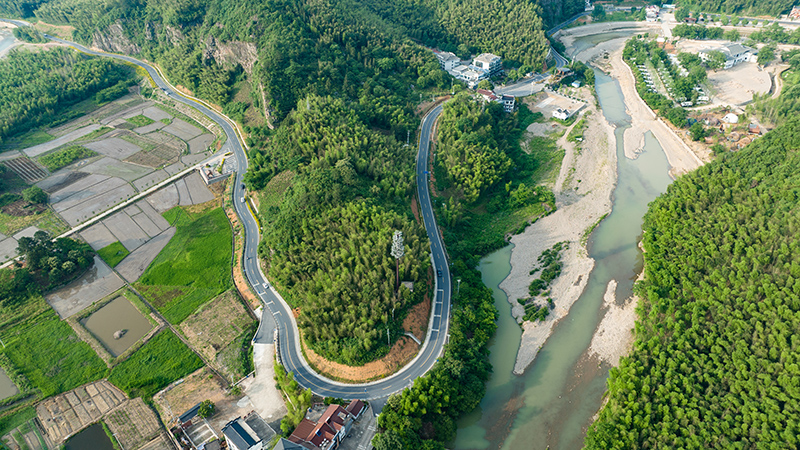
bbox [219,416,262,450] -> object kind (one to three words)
house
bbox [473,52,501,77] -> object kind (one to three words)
building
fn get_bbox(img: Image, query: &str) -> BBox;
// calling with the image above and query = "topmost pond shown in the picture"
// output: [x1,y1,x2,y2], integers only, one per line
[74,291,159,362]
